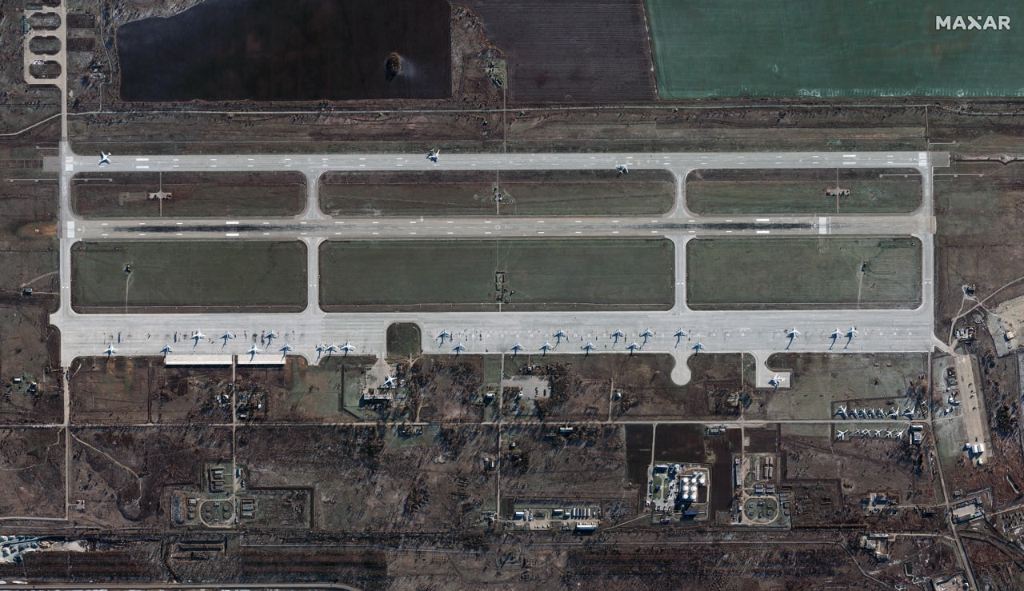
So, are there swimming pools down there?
No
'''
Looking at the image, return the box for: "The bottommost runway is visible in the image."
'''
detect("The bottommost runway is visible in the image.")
[58,216,936,238]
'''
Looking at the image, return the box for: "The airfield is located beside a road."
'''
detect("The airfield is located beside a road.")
[24,0,988,465]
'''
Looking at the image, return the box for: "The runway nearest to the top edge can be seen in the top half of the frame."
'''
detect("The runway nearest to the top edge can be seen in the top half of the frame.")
[43,152,949,171]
